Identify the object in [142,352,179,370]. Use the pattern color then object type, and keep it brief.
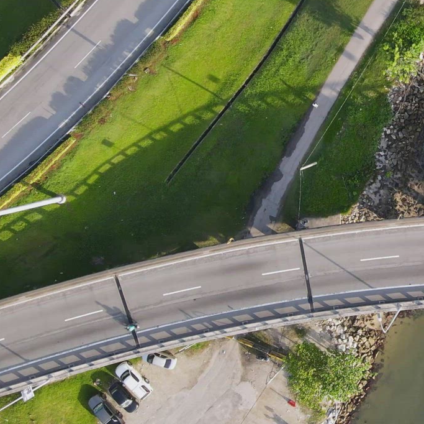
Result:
white car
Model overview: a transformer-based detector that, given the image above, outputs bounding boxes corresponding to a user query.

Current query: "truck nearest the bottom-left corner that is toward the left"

[85,396,121,424]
